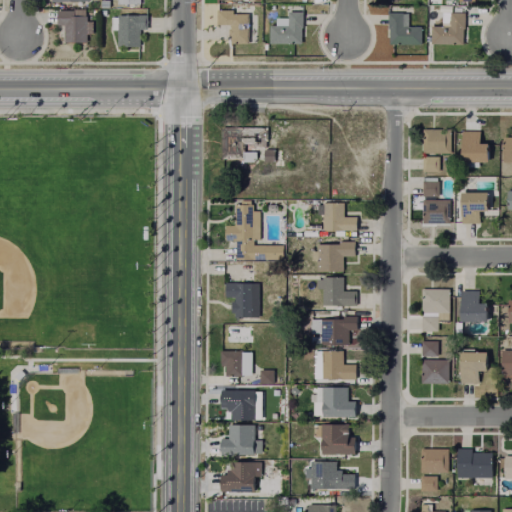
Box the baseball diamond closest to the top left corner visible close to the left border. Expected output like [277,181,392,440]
[0,150,98,338]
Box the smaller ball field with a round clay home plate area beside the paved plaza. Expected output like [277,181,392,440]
[20,374,152,508]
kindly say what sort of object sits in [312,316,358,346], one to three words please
house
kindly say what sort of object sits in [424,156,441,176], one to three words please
building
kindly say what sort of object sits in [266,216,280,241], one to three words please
swimming pool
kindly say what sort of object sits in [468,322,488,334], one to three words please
swimming pool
